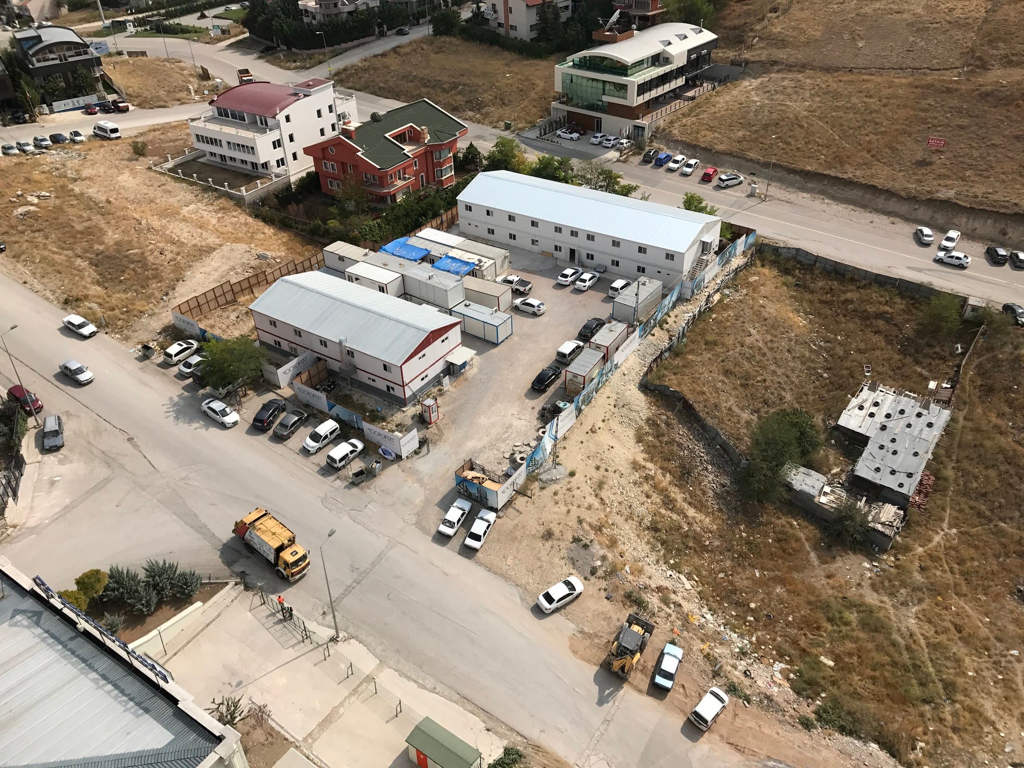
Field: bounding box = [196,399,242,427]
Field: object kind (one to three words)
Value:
car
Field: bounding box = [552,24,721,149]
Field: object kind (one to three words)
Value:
building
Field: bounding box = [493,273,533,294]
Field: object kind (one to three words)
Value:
truck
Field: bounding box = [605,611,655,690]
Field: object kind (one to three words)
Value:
work vehicle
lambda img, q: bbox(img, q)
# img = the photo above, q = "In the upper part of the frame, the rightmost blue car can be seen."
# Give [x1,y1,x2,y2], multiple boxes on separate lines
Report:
[654,152,673,165]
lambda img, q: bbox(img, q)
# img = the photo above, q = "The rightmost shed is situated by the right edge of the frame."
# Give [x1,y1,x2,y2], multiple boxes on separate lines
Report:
[966,292,1003,325]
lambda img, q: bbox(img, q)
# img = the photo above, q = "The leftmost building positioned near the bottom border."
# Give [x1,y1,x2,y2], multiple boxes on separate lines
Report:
[0,558,250,768]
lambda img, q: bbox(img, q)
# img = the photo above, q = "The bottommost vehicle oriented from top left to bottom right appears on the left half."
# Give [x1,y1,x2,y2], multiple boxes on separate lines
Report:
[224,504,312,579]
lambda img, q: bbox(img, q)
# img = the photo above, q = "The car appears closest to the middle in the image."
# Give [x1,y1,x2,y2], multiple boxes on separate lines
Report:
[530,363,566,392]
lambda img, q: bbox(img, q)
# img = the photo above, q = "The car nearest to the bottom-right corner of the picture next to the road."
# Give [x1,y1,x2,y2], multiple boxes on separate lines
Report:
[689,684,729,733]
